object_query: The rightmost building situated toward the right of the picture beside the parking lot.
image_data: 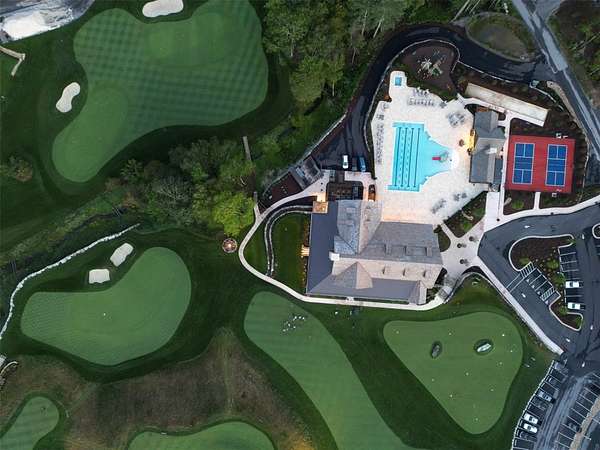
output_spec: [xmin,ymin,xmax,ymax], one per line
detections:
[468,110,510,186]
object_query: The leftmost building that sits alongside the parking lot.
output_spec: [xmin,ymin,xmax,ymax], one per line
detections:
[306,200,440,305]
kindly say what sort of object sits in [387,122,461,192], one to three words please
swimming pool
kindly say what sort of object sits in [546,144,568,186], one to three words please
sports court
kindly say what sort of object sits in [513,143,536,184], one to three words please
sports court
